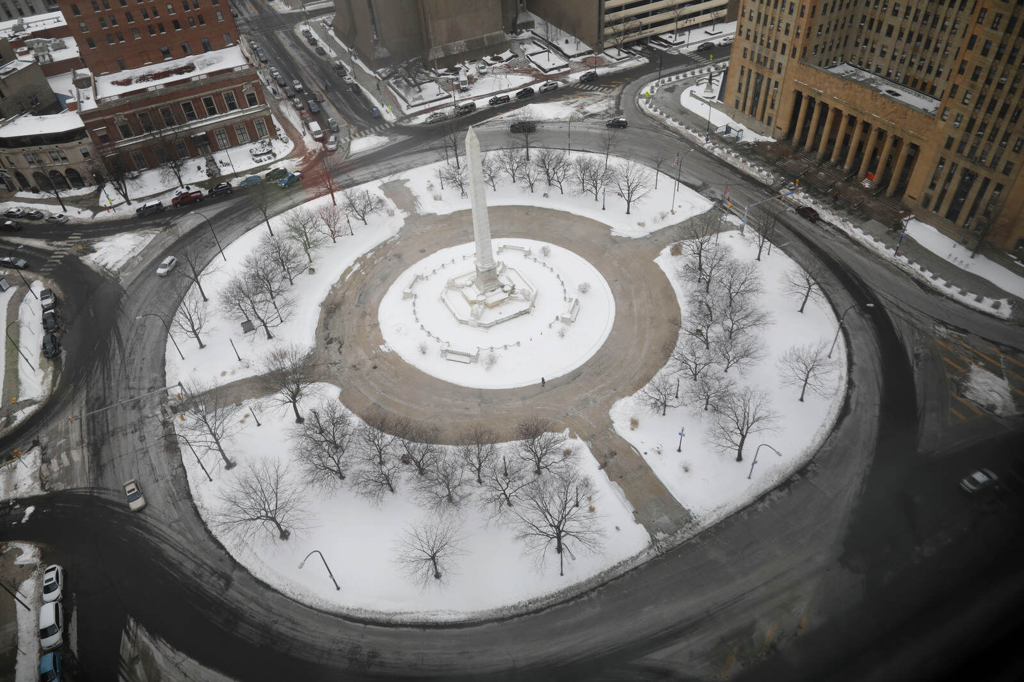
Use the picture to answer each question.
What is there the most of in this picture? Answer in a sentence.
What you mostly see from above here is paved ground.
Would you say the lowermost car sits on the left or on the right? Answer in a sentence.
The lowermost car appears in the left half of the scene.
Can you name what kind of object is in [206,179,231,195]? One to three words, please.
car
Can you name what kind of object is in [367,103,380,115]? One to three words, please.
vehicle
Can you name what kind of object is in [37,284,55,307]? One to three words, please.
vehicle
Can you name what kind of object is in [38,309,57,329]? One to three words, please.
car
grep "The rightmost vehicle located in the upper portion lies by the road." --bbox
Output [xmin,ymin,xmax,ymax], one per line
[795,200,822,221]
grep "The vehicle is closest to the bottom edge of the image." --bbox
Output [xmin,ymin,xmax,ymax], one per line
[34,642,61,682]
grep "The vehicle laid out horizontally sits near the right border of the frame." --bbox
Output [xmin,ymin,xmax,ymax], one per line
[958,466,1004,492]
